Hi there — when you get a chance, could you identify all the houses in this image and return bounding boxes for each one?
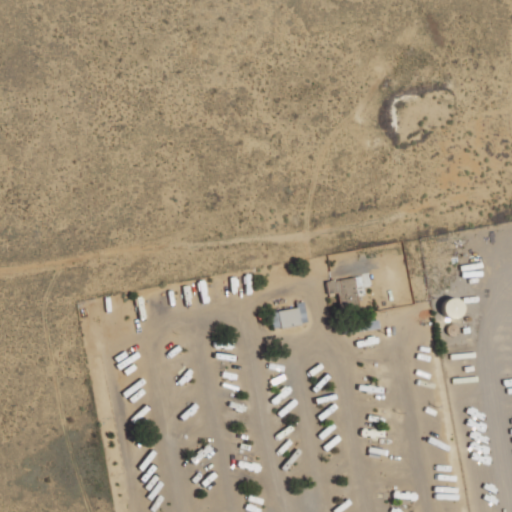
[274,302,308,330]
[328,274,372,310]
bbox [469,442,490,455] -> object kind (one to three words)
vehicle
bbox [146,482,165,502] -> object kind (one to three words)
vehicle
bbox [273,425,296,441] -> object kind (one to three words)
camper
